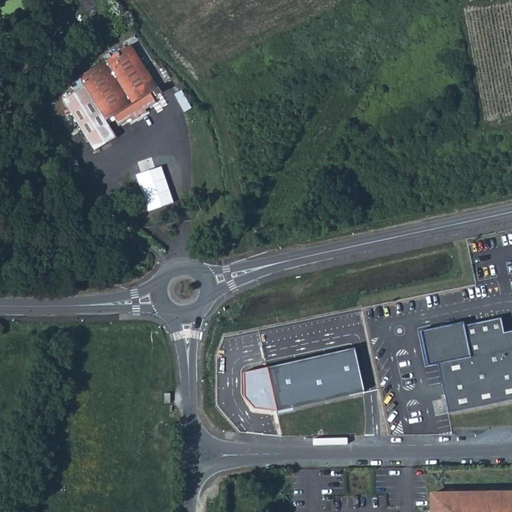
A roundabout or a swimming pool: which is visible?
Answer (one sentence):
The image shows a roundabout.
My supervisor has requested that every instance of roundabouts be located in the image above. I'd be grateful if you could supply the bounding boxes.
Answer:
[138,256,231,332]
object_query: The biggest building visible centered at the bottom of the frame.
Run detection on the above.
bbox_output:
[242,348,365,415]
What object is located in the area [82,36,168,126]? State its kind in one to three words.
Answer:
house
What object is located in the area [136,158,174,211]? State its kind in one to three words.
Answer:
barn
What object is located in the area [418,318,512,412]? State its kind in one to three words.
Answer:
building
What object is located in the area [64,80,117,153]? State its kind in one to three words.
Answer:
building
